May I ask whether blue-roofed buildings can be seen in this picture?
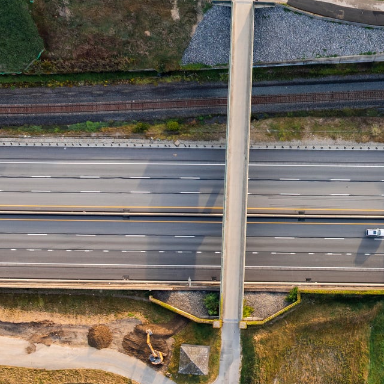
No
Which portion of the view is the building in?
bottom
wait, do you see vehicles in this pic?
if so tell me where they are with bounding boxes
[144,329,163,369]
[366,228,384,237]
